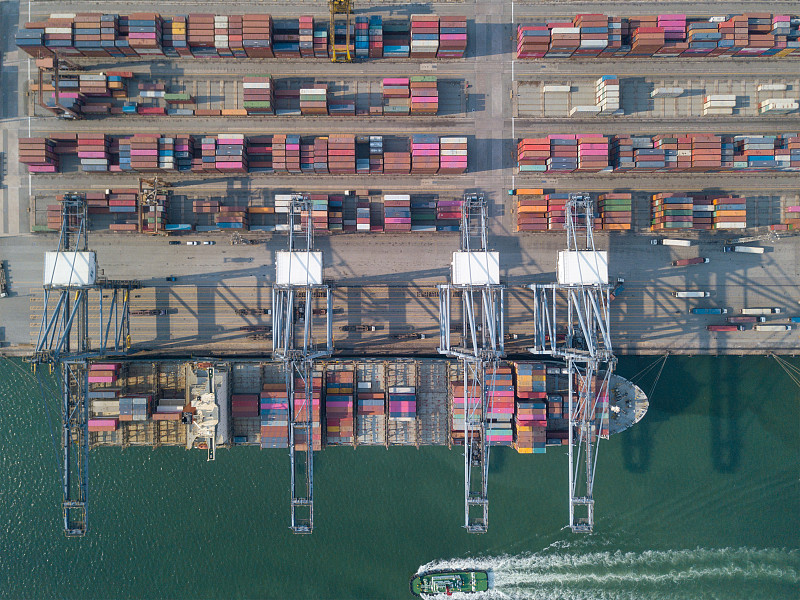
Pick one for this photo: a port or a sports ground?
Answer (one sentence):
It's a port.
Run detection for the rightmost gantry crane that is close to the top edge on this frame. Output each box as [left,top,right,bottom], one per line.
[323,0,354,62]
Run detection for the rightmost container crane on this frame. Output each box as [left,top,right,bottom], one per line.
[517,188,619,537]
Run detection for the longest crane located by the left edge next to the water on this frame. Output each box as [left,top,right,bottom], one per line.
[22,189,160,537]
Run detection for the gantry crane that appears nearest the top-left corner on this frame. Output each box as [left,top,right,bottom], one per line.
[38,43,91,120]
